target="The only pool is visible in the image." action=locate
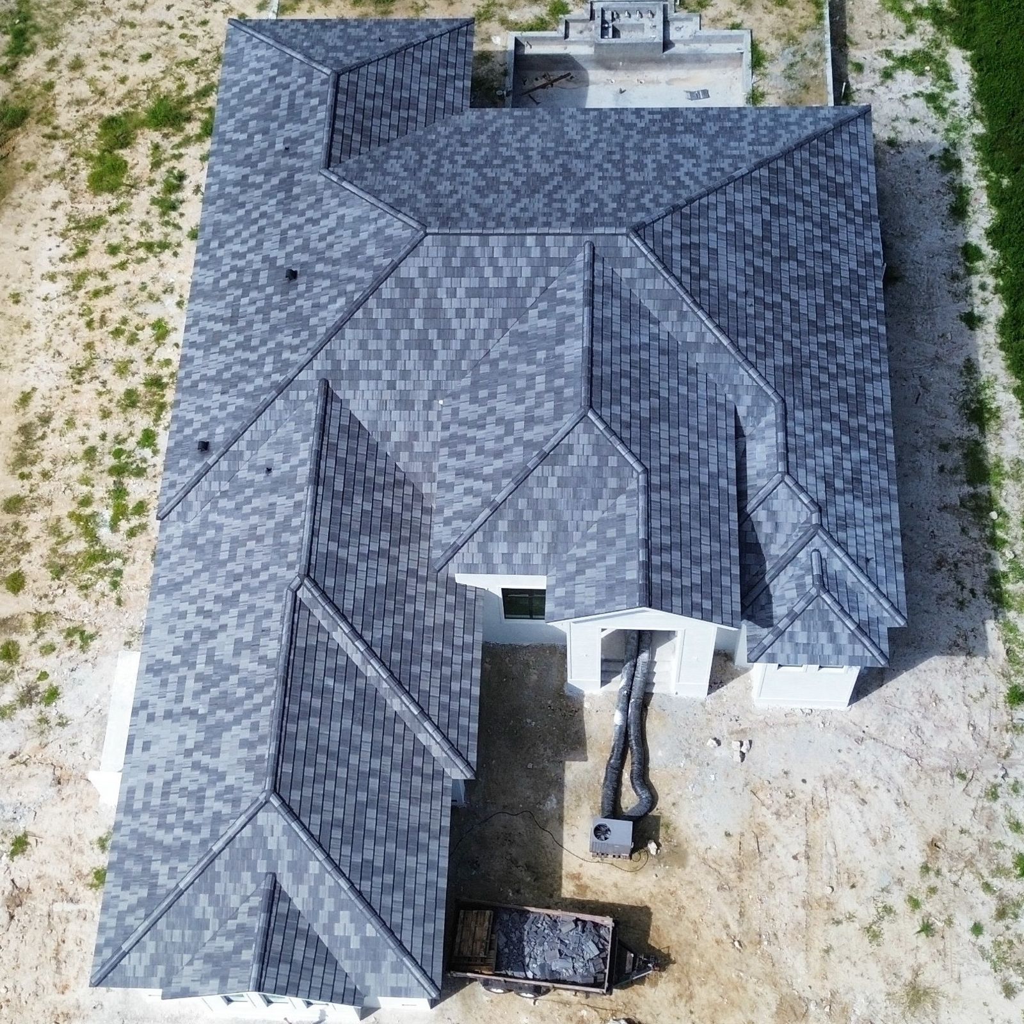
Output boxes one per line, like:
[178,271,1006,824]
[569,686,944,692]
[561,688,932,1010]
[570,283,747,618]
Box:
[505,0,754,106]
